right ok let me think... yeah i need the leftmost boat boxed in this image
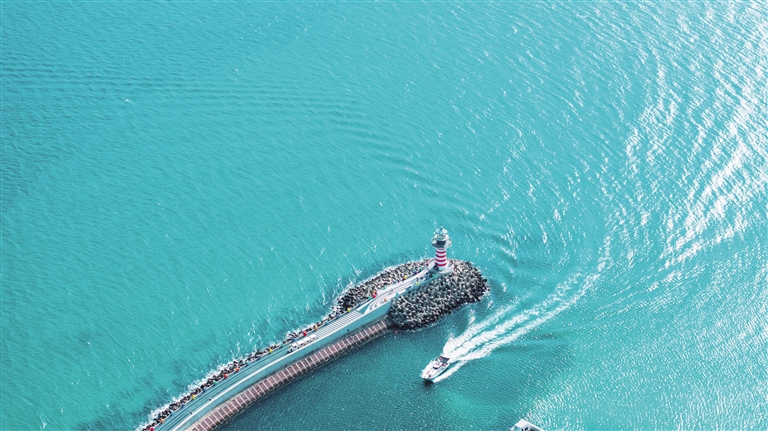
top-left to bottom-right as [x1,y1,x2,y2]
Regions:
[427,354,453,379]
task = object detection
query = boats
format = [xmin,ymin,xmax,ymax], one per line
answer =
[427,354,453,379]
[512,419,544,431]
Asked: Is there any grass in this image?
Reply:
No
